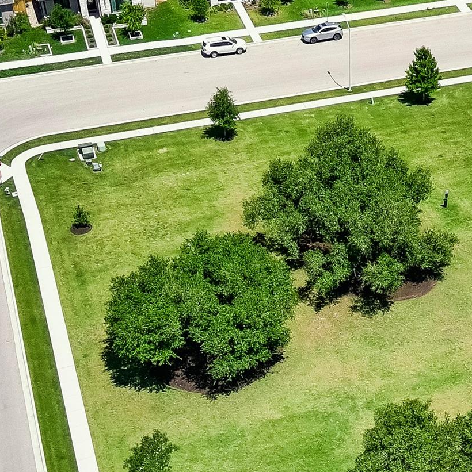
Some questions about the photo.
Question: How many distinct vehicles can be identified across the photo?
2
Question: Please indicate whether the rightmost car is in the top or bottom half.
top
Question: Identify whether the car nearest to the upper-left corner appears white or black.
white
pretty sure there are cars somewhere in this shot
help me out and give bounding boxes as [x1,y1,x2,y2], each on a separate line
[200,35,249,59]
[300,20,347,44]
